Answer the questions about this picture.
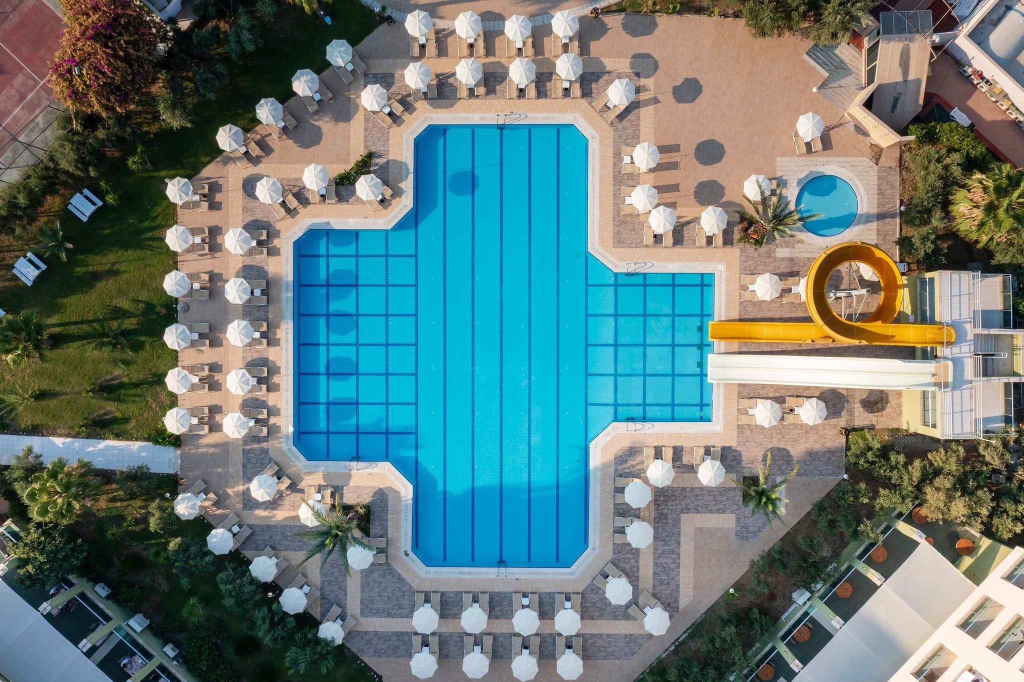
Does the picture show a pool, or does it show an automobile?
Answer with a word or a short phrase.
pool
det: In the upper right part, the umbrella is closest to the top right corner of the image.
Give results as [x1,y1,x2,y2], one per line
[791,113,821,142]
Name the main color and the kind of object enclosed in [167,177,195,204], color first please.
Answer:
white umbrella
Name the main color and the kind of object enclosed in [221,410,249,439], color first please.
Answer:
white umbrella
